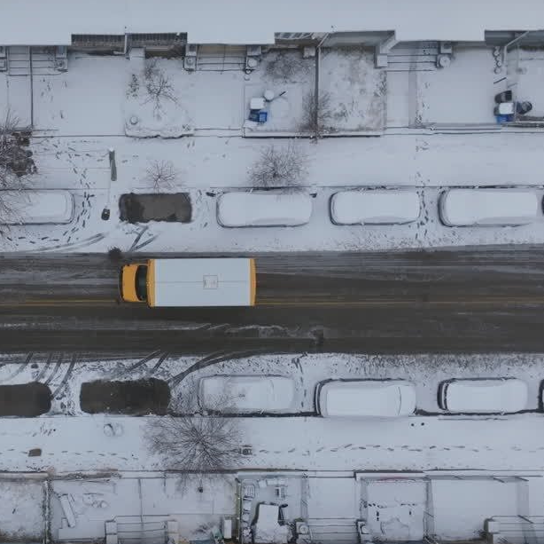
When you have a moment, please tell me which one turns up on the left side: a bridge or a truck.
truck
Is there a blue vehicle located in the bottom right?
No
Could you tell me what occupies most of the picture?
paved ground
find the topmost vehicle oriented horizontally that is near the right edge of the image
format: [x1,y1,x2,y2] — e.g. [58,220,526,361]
[433,187,540,228]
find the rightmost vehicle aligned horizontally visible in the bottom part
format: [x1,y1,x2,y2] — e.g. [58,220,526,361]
[432,376,528,417]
